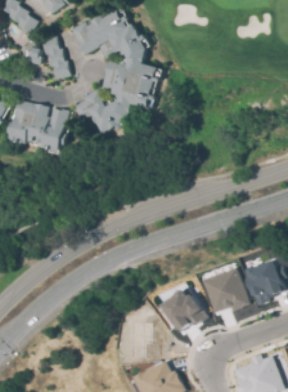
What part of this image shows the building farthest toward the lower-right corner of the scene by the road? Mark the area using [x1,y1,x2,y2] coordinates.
[232,356,285,392]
